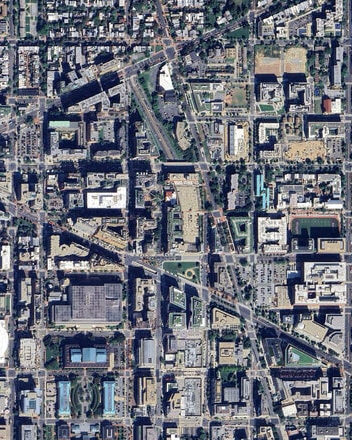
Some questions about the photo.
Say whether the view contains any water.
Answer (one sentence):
No, the scene doesn't show any water.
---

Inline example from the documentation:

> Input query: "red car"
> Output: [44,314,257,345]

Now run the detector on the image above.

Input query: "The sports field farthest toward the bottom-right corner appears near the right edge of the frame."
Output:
[289,215,339,253]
